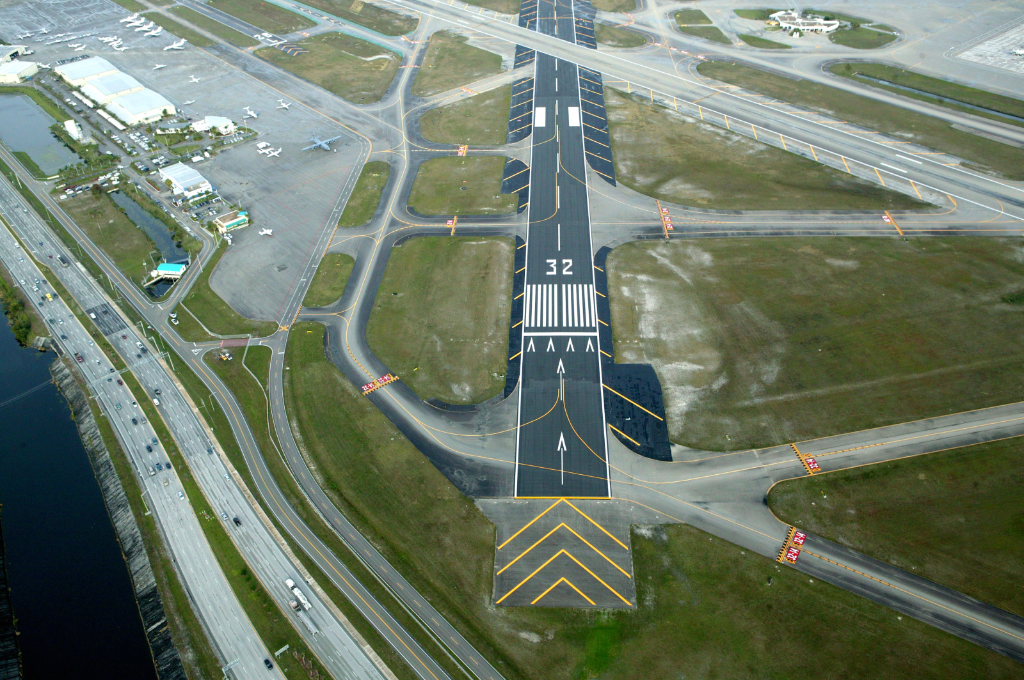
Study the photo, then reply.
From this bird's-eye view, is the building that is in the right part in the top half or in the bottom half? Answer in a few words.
top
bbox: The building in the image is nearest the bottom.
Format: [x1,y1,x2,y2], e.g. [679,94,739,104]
[157,264,188,280]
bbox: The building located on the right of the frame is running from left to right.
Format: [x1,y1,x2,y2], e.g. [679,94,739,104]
[770,11,839,35]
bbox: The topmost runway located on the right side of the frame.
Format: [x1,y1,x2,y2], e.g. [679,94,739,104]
[386,0,1024,219]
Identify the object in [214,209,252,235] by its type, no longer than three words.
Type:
building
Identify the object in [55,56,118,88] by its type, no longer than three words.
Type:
hangar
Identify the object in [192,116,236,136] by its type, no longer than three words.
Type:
building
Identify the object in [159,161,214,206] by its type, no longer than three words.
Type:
hangar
